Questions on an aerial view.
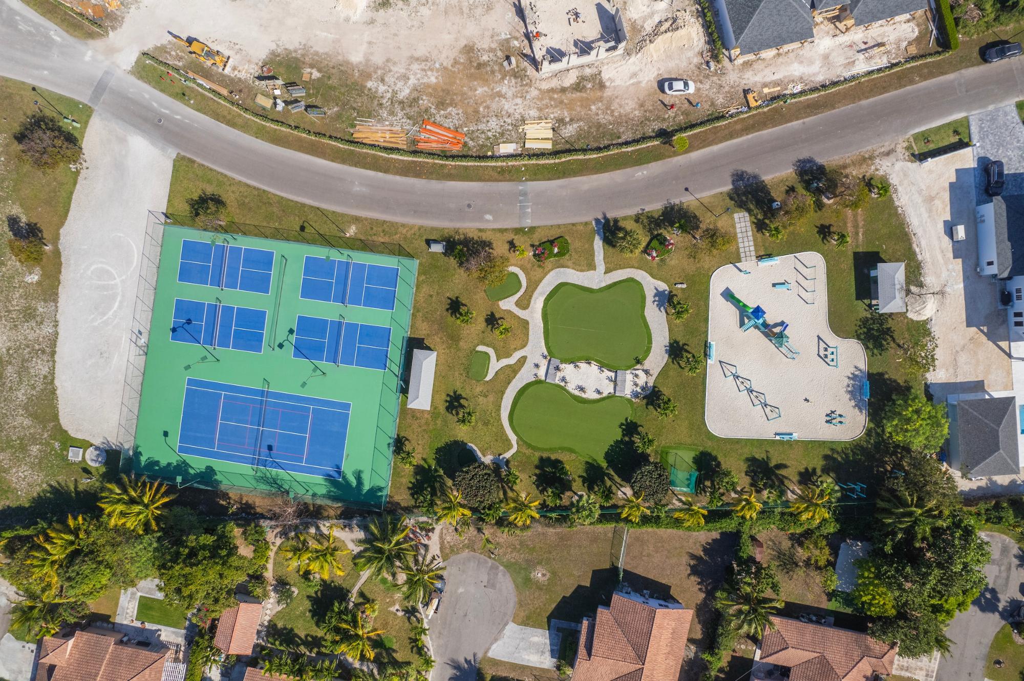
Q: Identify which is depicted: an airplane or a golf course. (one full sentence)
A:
This aerial view contains a golf course.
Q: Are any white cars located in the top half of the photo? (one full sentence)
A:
Yes, a white car is visible in the top half of the photo.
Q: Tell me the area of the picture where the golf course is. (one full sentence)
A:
The golf course is located in the center region of the scene.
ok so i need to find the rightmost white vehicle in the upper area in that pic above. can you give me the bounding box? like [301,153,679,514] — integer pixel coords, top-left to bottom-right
[664,77,695,93]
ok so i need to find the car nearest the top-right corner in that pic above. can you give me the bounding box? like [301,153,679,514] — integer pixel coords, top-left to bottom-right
[985,39,1024,61]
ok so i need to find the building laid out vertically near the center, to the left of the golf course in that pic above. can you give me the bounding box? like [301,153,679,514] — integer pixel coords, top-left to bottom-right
[407,349,438,410]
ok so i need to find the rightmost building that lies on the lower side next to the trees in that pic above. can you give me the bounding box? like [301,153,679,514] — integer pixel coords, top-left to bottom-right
[949,396,1020,478]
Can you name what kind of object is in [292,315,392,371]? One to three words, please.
sports court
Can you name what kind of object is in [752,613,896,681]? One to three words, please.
house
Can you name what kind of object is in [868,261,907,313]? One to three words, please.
building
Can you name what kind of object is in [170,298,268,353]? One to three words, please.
sports court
